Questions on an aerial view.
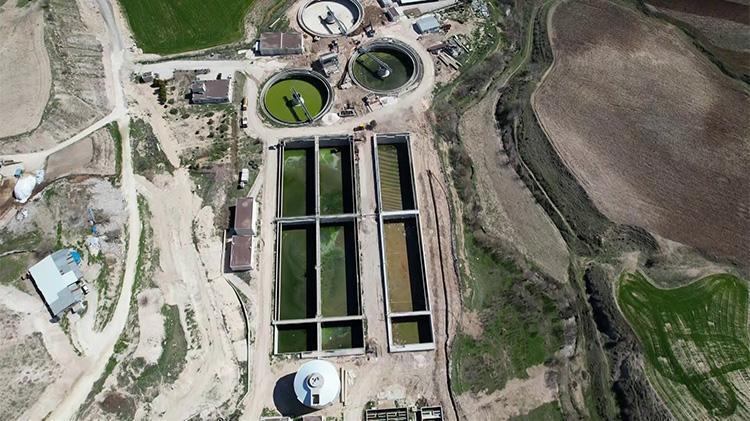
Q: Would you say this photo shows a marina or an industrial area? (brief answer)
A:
industrial area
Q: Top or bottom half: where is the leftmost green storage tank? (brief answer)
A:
top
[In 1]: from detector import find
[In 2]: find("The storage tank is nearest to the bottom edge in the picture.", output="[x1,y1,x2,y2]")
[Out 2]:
[294,359,341,411]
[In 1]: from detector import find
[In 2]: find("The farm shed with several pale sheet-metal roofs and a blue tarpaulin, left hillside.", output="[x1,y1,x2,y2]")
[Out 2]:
[29,249,86,324]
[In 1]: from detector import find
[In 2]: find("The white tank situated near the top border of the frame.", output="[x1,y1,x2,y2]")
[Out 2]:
[297,0,364,39]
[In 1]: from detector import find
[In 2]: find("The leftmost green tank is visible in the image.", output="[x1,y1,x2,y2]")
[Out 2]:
[259,70,333,129]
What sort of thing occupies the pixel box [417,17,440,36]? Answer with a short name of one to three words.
building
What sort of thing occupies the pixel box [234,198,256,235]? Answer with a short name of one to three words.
building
